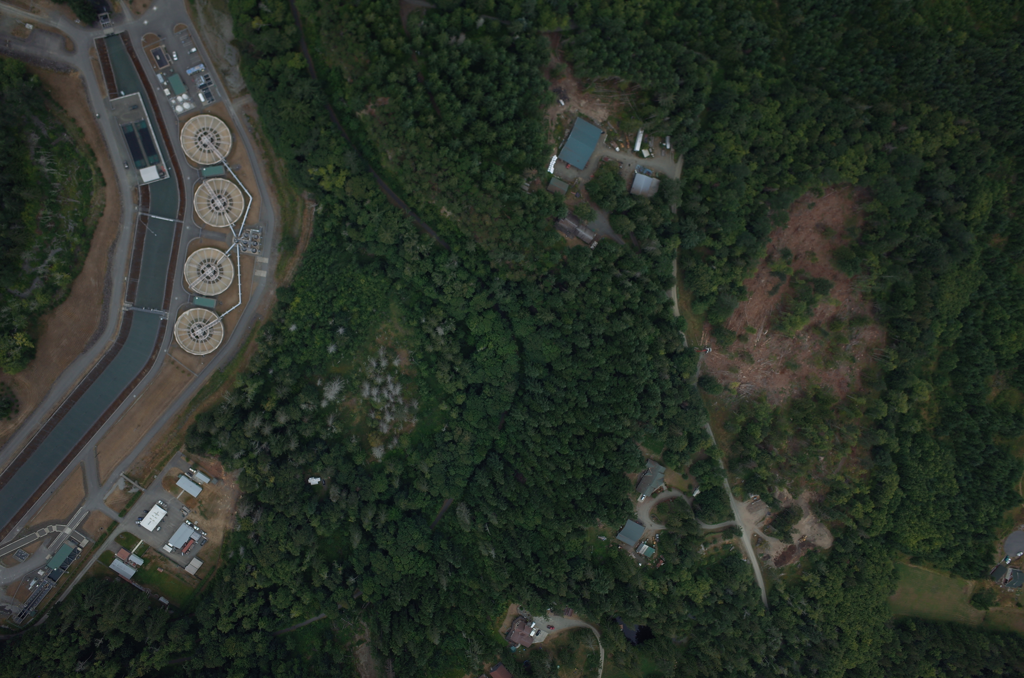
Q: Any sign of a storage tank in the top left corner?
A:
Yes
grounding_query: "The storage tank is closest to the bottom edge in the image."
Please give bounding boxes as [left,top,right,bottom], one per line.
[174,307,226,356]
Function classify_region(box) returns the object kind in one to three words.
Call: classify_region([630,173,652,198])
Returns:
barn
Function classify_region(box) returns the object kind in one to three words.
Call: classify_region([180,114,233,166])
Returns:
storage tank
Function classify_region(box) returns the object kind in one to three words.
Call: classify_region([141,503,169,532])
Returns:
building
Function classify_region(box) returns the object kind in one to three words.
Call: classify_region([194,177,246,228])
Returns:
storage tank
